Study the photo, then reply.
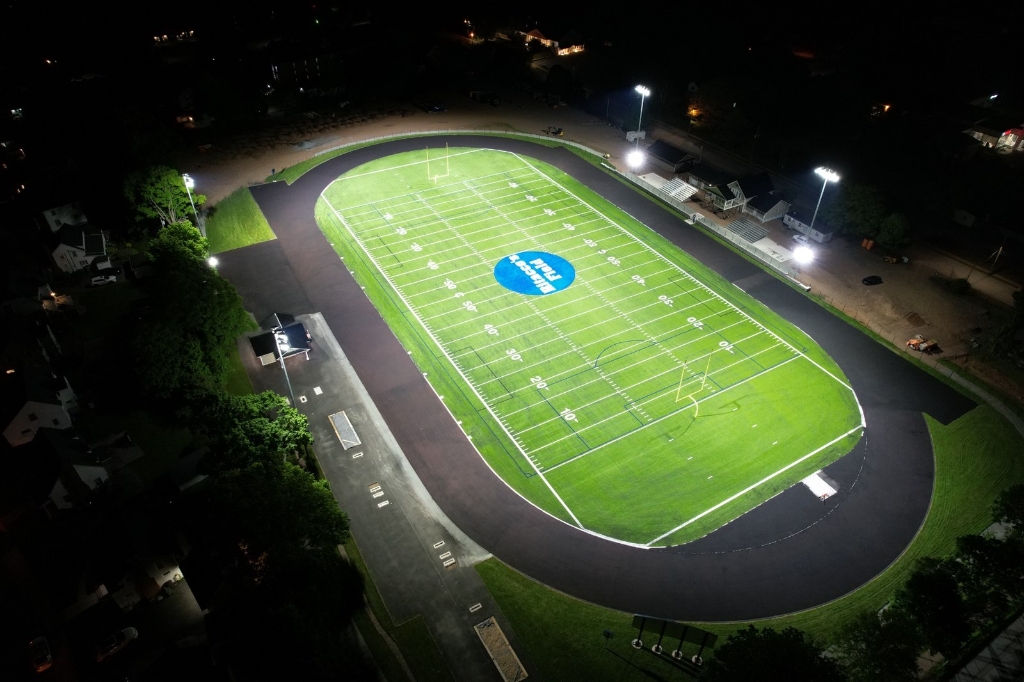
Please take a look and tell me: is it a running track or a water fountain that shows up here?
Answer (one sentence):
Of the two, only a running track appears.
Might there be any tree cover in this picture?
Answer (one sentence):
Yes, some tree cover is visible.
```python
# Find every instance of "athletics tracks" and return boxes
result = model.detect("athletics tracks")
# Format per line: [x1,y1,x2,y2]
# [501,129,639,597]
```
[249,136,981,620]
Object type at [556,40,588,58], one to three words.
house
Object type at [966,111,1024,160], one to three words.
building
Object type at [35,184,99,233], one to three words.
house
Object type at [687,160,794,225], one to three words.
building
